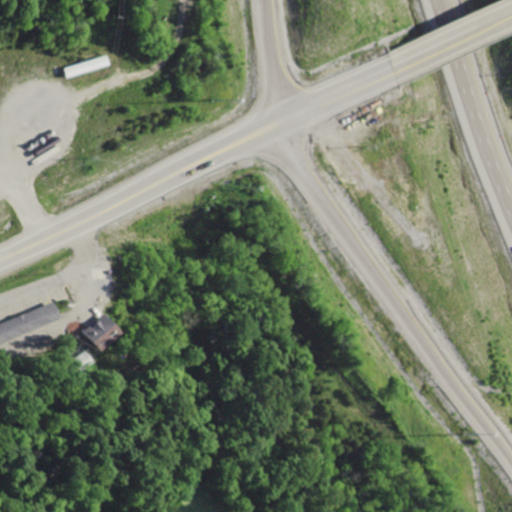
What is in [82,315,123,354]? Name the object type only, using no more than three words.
house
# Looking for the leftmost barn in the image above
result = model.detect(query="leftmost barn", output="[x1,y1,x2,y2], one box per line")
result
[0,297,60,342]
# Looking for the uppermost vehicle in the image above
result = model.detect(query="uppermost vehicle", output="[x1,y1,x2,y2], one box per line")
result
[54,56,110,78]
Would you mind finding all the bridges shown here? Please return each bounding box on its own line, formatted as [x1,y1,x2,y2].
[382,0,512,90]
